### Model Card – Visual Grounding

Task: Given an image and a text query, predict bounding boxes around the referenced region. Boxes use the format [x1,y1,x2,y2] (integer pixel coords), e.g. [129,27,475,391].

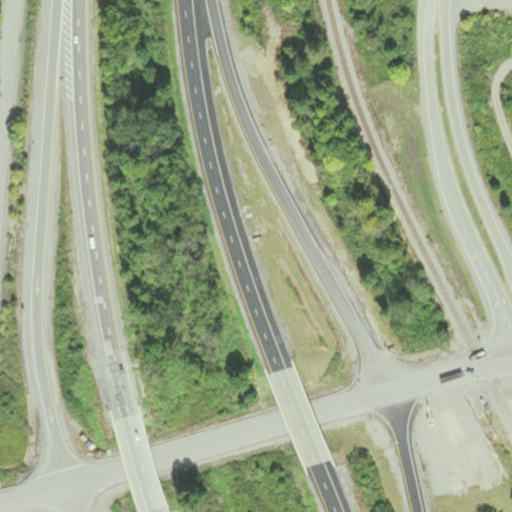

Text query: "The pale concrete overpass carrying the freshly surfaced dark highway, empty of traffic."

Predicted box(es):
[264,360,336,474]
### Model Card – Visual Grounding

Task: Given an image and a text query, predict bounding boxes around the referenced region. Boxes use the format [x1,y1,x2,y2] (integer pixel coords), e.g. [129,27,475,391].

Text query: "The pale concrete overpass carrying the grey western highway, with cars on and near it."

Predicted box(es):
[110,406,168,512]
